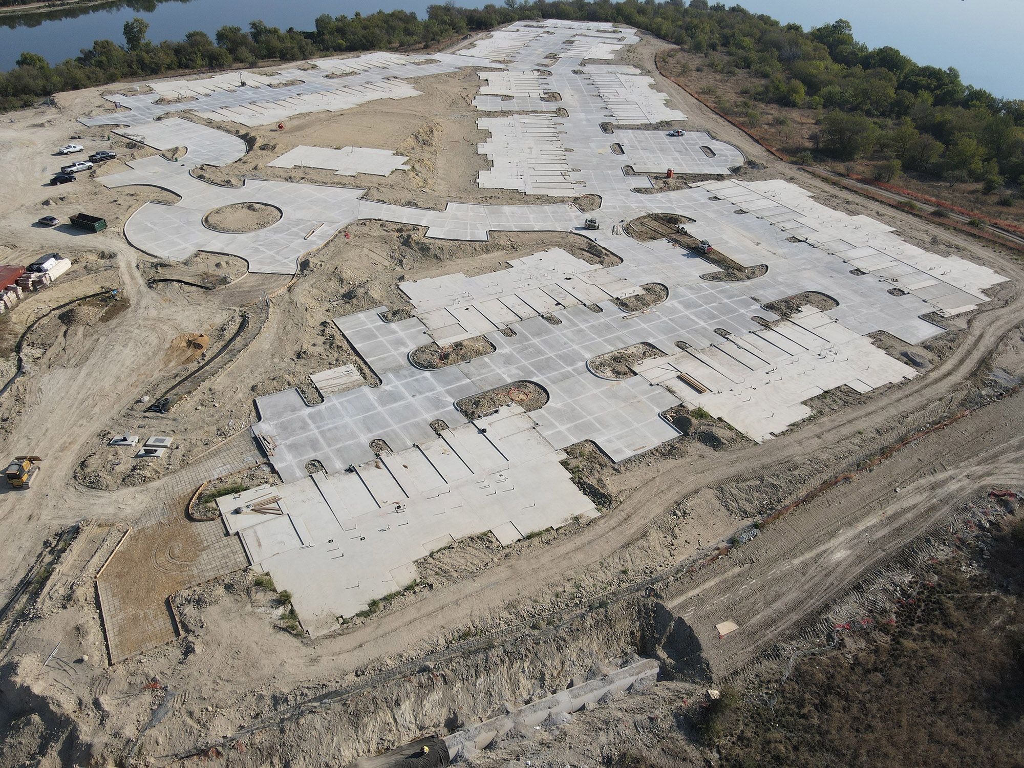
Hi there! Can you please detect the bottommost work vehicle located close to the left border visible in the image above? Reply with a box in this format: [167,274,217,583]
[0,454,51,496]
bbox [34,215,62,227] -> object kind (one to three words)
vehicle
